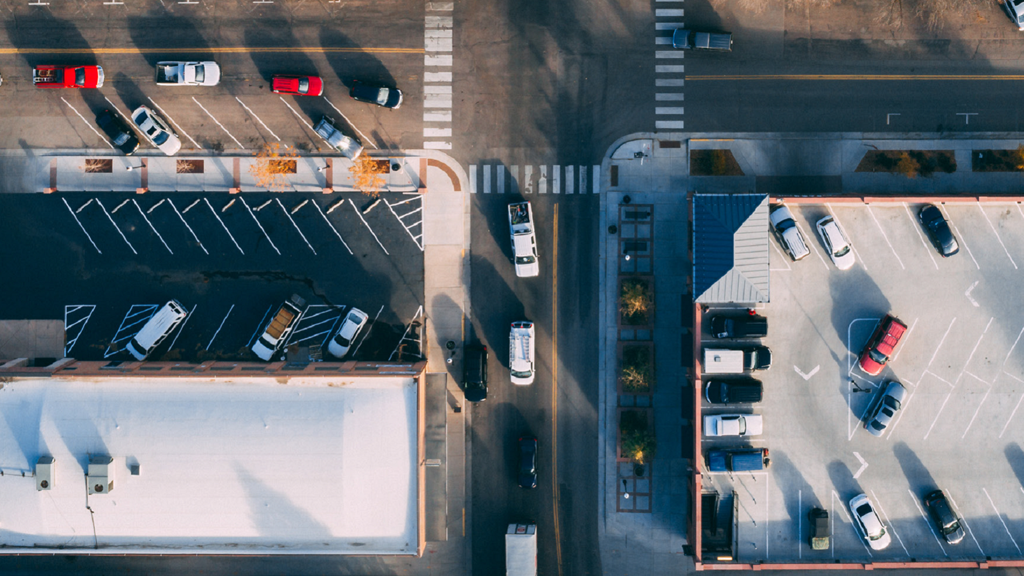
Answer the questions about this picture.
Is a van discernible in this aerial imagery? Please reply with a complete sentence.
Yes, a van can be made out from above.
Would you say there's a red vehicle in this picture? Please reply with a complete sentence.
Yes, I can see a red vehicle in this picture.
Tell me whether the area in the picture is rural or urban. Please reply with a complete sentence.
This place is urban.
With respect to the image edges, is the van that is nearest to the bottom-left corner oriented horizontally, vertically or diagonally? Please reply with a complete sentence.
From this overhead view, the van that is nearest to the bottom-left corner appears to run diagonally.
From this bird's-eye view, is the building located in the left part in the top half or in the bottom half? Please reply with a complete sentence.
It is in the bottom half that the building located in the left part appears.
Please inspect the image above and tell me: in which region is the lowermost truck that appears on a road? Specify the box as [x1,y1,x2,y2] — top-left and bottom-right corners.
[506,522,536,576]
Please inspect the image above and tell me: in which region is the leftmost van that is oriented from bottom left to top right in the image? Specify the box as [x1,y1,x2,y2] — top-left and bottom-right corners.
[126,297,188,361]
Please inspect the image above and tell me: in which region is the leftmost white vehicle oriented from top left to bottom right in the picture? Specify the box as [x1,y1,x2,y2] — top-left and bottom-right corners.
[130,105,182,158]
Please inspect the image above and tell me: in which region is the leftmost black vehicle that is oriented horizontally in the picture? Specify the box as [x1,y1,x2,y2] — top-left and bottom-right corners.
[348,79,403,110]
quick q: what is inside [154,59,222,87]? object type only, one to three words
truck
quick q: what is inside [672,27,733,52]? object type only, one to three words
truck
